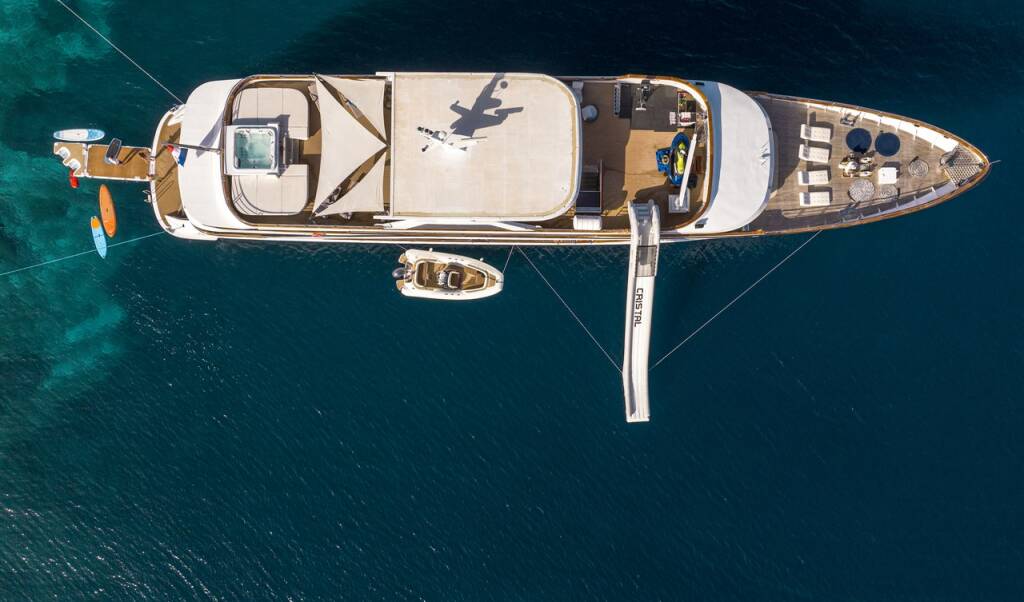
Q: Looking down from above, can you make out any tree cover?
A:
No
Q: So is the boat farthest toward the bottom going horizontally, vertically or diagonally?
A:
horizontally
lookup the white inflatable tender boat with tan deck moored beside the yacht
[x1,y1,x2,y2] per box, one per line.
[392,249,504,300]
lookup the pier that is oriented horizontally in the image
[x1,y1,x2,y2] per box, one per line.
[54,143,150,183]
